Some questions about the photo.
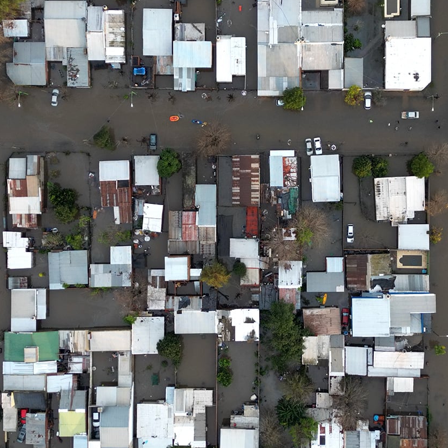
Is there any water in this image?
Yes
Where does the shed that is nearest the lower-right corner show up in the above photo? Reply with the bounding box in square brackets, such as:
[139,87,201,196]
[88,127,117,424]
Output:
[386,413,432,448]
